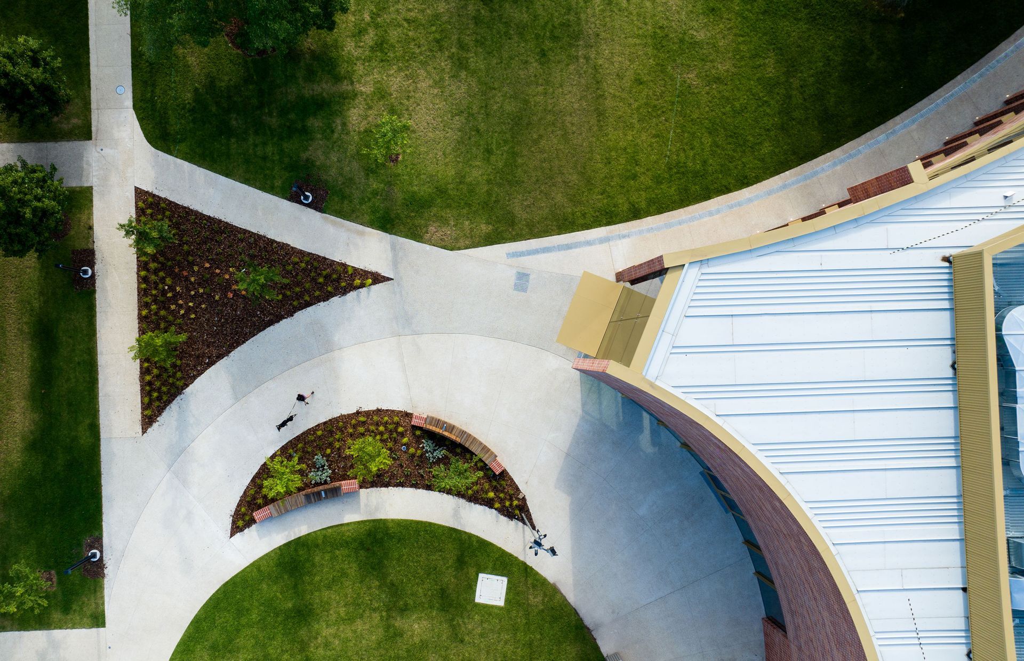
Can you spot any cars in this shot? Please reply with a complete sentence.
No, this view has no car in it.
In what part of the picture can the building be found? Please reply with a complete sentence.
The building appears toward the right of the photo.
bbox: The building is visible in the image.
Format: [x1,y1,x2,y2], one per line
[556,95,1024,661]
